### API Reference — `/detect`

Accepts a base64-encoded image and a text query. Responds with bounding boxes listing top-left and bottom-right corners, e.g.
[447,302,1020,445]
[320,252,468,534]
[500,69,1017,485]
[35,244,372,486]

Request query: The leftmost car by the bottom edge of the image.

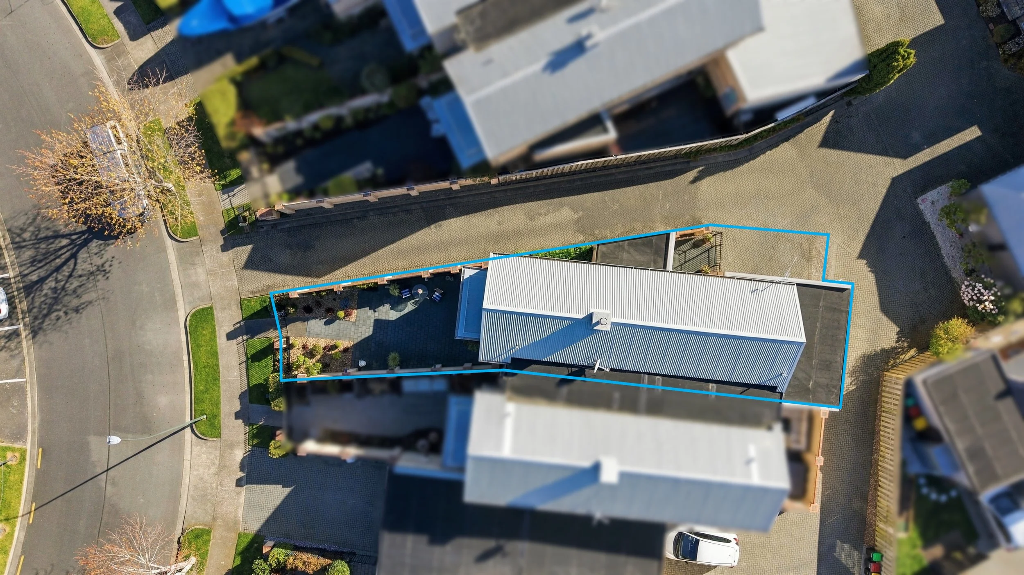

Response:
[666,525,740,571]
